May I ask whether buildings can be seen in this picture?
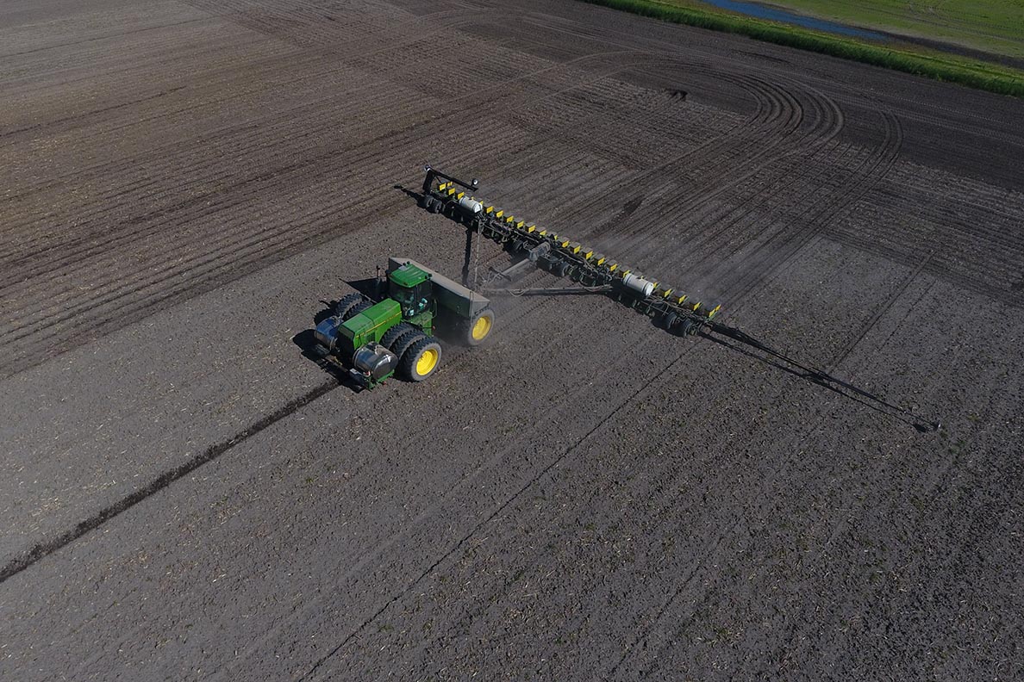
No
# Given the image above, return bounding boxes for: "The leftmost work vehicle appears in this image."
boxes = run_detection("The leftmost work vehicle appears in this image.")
[316,257,493,395]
